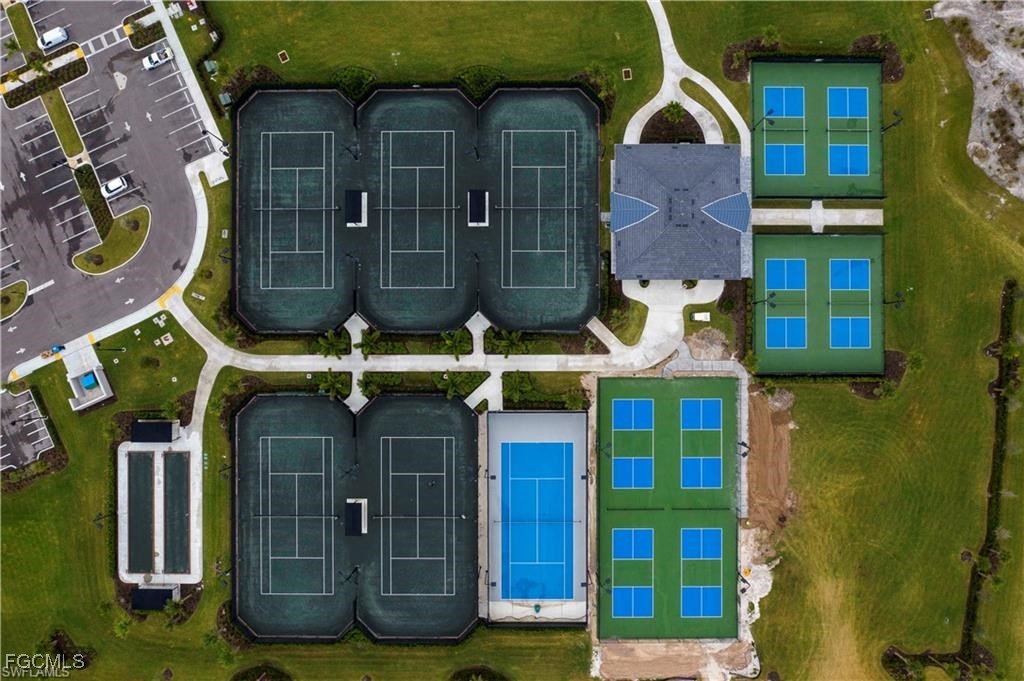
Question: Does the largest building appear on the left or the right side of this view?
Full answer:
It is on the right.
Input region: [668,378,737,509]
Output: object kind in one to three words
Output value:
sports court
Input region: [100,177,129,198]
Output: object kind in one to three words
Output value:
car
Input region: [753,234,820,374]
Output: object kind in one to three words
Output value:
sports court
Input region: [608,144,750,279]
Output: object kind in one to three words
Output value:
building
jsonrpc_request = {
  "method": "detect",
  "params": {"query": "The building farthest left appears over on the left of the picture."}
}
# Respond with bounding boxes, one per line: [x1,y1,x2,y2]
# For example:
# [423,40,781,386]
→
[64,364,116,412]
